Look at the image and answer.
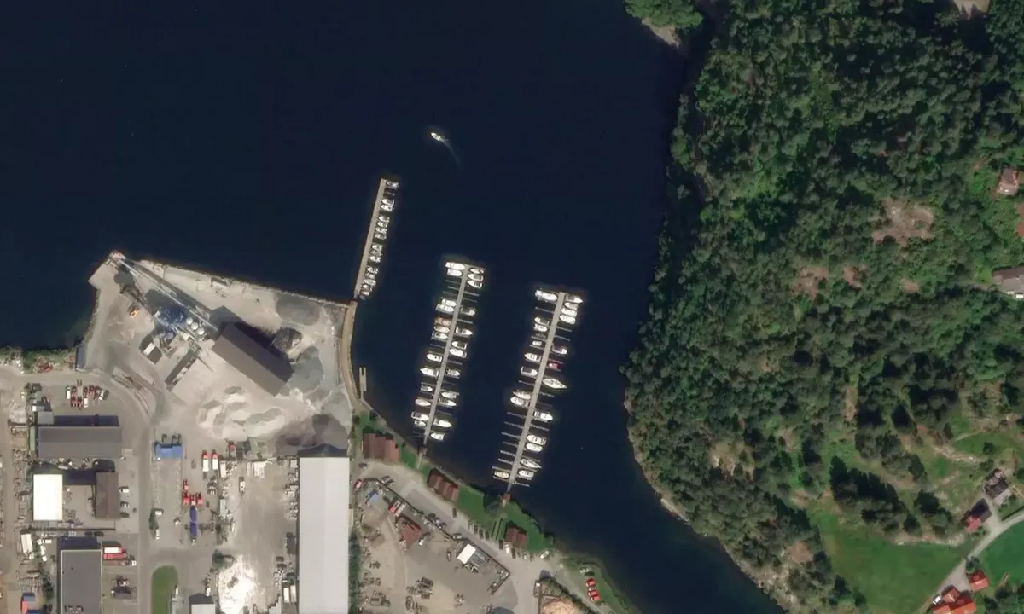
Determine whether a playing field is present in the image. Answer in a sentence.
No, I can see no playing field in this picture.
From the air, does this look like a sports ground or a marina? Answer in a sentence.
This image shows a marina.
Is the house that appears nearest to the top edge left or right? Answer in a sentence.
You can find the house that appears nearest to the top edge on the right side of the picture.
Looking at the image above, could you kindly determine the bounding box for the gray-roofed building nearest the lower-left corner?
[61,549,103,614]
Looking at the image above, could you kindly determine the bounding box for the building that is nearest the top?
[997,165,1022,188]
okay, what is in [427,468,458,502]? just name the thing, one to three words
building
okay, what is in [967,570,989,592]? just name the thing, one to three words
house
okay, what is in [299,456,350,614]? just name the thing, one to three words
building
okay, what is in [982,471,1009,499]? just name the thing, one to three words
house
